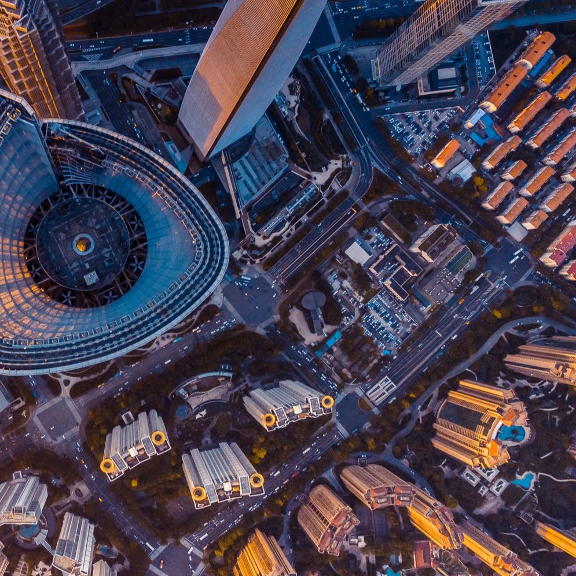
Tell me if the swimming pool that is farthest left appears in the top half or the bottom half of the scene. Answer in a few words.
bottom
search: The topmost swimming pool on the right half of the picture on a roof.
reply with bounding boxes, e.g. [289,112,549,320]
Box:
[498,426,524,440]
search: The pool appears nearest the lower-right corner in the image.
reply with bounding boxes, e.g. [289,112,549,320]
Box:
[507,471,536,492]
